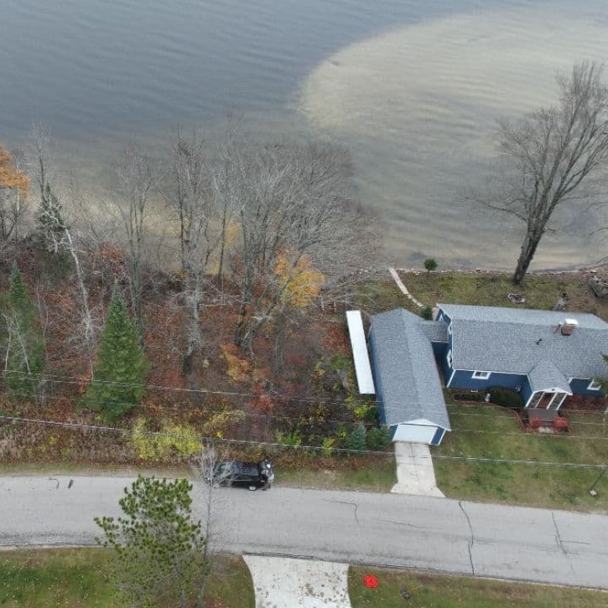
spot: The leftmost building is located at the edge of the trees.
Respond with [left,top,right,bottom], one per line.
[365,308,451,448]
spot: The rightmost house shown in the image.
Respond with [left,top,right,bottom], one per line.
[420,302,608,425]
